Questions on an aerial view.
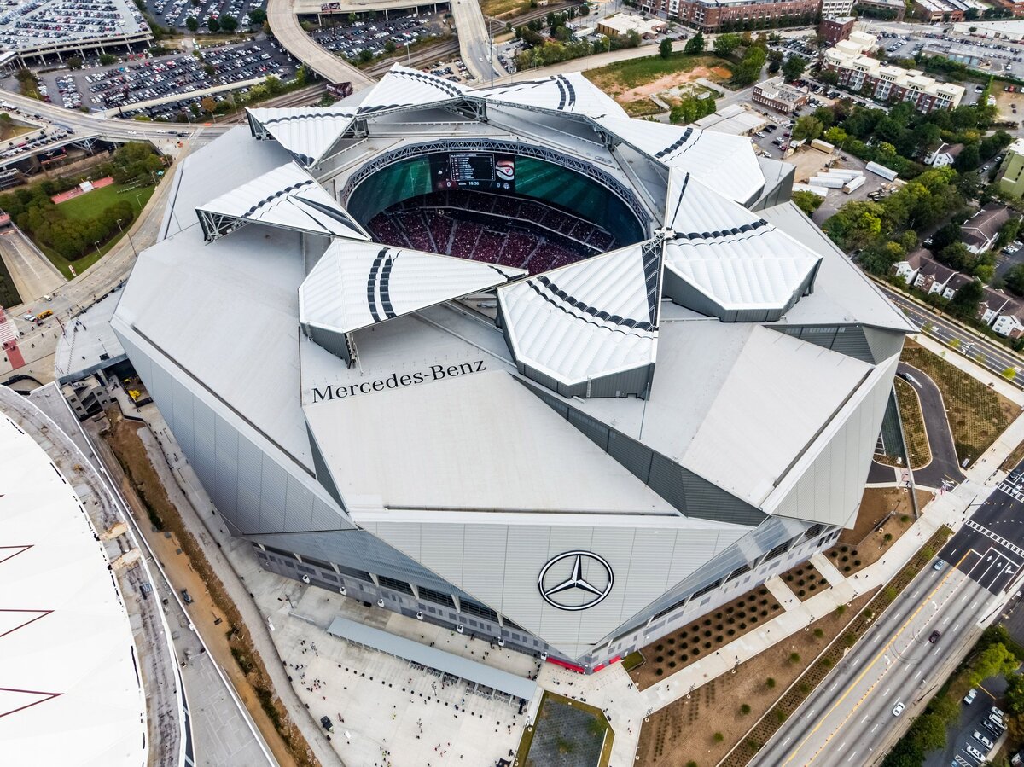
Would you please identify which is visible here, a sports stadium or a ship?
sports stadium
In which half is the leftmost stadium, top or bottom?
bottom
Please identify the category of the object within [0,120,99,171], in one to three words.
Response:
bridge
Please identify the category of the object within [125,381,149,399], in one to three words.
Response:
work vehicle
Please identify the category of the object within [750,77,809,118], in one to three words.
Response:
building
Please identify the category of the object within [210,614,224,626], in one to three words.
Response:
vehicle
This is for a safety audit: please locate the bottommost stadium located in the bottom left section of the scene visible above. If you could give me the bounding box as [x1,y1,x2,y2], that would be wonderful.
[0,380,283,767]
